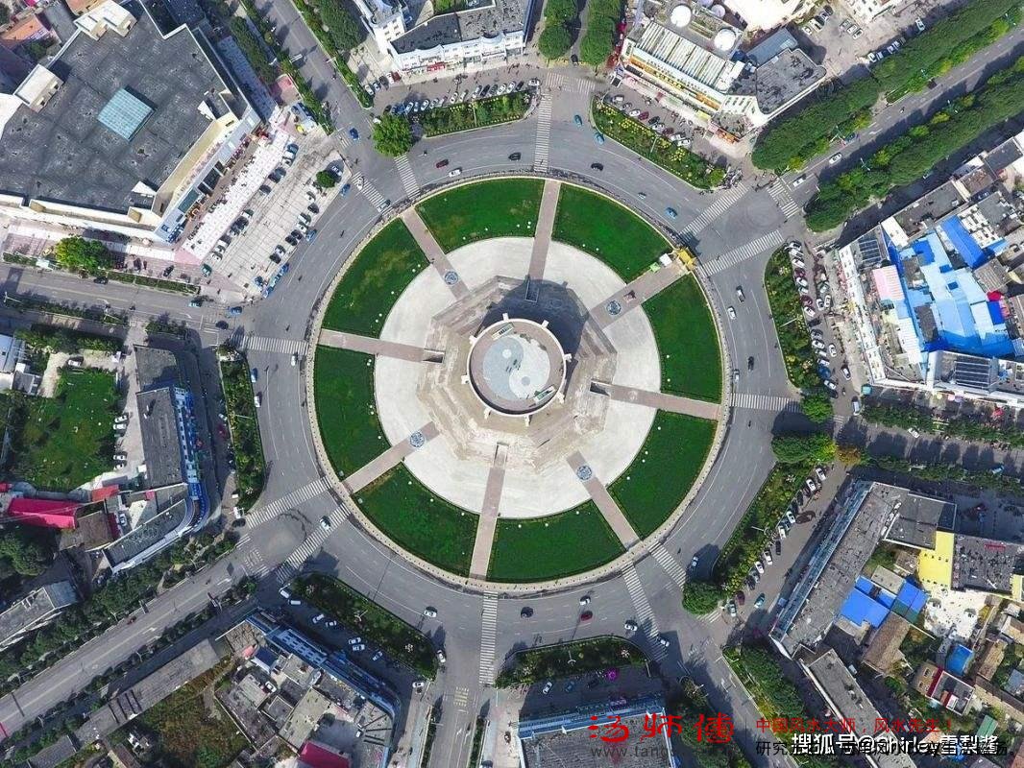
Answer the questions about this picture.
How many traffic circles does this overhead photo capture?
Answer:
1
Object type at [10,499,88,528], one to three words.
building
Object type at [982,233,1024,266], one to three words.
shed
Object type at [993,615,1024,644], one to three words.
house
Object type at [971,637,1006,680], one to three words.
house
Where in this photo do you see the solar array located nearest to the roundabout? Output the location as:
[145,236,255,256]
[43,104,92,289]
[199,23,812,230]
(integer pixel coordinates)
[859,239,881,265]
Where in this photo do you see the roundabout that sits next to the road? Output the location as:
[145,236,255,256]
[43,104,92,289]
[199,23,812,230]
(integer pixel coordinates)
[219,97,815,677]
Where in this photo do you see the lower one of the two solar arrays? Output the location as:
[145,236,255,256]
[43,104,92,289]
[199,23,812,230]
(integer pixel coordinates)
[953,356,989,382]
